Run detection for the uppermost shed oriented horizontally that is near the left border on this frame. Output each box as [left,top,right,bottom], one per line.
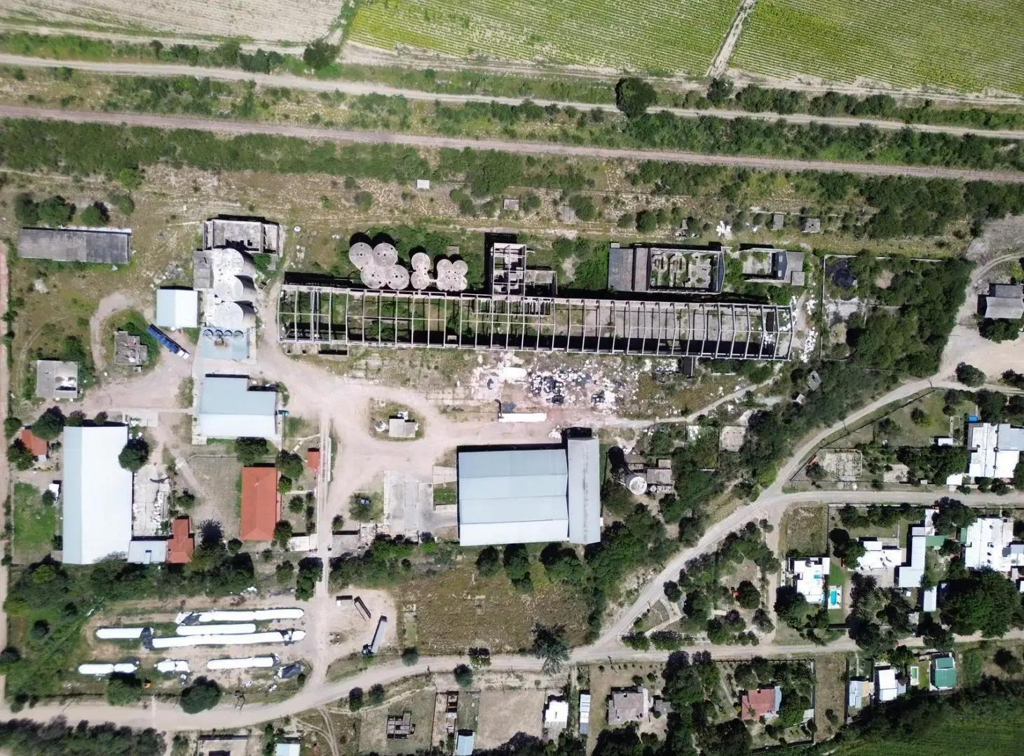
[18,229,134,264]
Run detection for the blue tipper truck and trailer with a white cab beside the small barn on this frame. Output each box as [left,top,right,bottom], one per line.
[147,327,191,359]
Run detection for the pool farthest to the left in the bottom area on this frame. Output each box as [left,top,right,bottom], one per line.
[828,586,842,609]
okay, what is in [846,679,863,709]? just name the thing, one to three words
house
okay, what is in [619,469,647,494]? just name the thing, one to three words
water tower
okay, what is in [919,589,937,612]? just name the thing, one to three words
shed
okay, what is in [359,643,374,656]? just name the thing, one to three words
vehicle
